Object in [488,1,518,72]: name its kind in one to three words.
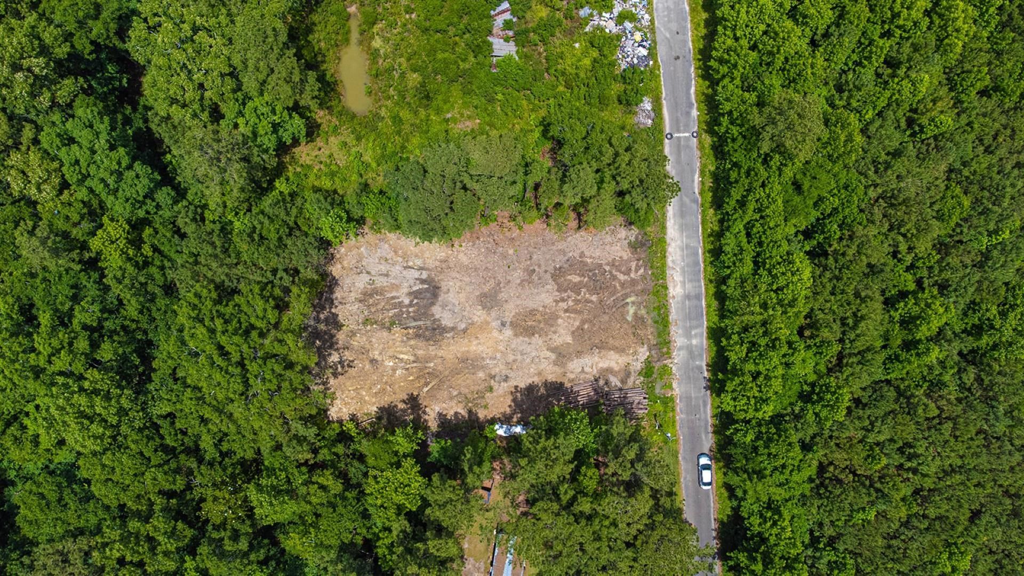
shed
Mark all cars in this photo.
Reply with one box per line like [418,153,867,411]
[698,455,715,490]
